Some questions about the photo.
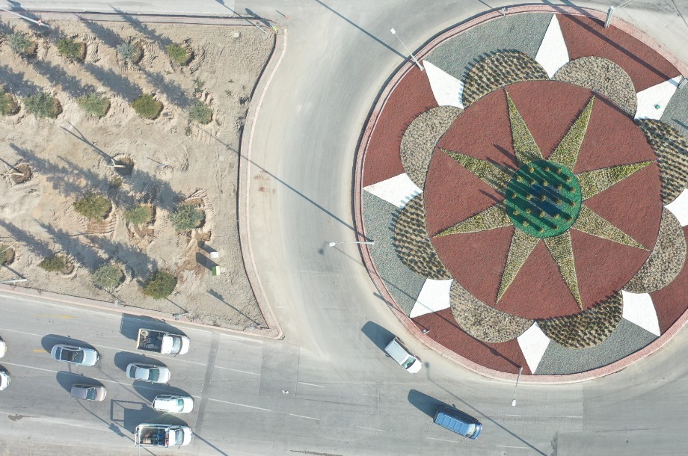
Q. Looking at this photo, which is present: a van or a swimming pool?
van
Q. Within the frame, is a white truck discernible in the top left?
No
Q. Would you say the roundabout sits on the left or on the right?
right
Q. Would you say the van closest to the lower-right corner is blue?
Yes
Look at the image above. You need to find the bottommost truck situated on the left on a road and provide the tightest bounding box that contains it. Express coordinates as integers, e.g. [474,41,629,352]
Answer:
[135,423,193,448]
